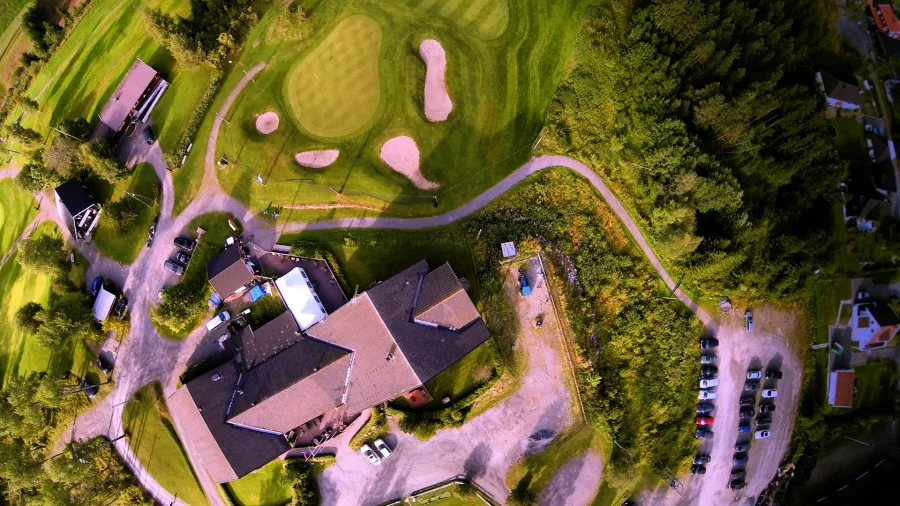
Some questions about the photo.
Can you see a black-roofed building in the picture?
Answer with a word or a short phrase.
Yes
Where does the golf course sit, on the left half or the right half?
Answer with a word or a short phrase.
left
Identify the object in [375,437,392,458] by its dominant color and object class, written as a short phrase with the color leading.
white car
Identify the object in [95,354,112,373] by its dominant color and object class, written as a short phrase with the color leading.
black car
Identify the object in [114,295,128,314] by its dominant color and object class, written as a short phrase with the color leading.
black car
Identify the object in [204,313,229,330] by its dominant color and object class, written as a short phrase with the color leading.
white vehicle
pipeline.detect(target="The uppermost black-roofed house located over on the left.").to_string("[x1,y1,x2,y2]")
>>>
[54,177,103,242]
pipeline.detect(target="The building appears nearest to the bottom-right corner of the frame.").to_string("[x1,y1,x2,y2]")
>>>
[823,369,853,408]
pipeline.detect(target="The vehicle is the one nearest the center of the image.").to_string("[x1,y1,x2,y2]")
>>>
[517,270,532,293]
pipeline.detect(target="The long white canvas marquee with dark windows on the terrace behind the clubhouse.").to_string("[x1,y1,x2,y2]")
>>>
[274,266,330,331]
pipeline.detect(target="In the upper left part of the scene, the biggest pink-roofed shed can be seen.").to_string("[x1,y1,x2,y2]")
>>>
[98,57,171,127]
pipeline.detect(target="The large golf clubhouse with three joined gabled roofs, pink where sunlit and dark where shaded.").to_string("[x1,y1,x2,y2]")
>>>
[166,260,492,482]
